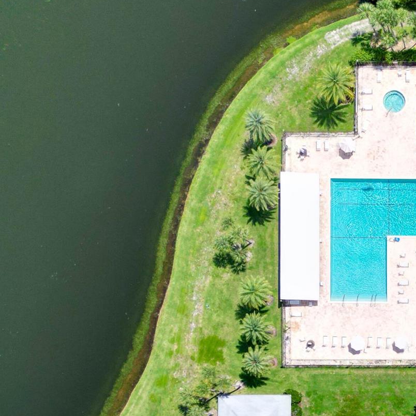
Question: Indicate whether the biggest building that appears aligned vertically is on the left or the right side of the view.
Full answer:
The biggest building that appears aligned vertically is on the right side of the image.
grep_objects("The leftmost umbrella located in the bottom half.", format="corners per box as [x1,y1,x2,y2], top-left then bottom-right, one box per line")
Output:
[350,335,366,352]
